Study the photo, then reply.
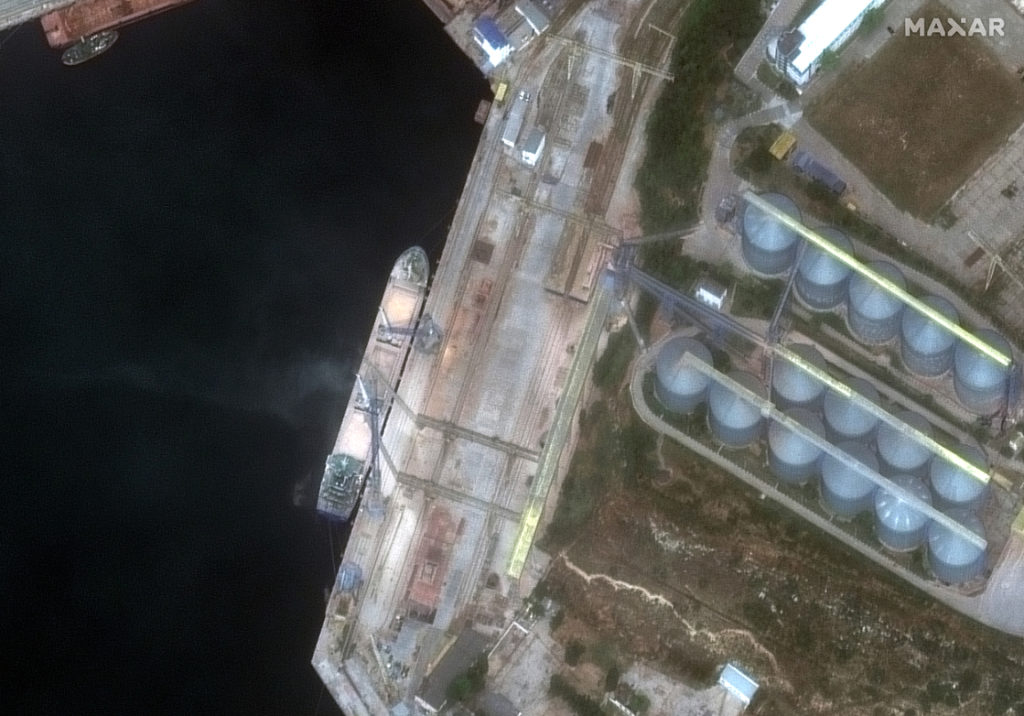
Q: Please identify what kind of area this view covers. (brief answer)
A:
port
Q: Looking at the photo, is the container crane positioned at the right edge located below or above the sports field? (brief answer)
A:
below it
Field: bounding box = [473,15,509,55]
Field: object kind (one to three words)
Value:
building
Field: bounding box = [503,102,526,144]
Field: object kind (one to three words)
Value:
shed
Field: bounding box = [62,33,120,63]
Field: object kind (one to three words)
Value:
boat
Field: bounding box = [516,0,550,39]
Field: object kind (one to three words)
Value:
shed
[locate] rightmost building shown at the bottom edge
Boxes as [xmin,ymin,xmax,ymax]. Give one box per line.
[720,663,758,702]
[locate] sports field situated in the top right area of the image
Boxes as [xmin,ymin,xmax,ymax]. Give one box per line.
[804,0,1024,220]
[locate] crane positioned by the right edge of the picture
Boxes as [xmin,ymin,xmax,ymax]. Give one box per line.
[966,230,1024,293]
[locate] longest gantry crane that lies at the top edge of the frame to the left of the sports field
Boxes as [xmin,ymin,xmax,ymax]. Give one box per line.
[545,32,676,91]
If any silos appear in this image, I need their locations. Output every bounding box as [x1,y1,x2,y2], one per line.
[769,345,828,416]
[737,194,800,275]
[948,331,1012,411]
[896,297,960,378]
[651,339,714,417]
[843,263,907,344]
[763,409,826,487]
[873,413,935,483]
[922,509,986,586]
[926,446,988,516]
[705,372,766,450]
[816,442,879,520]
[869,476,933,553]
[819,379,881,450]
[791,229,854,310]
